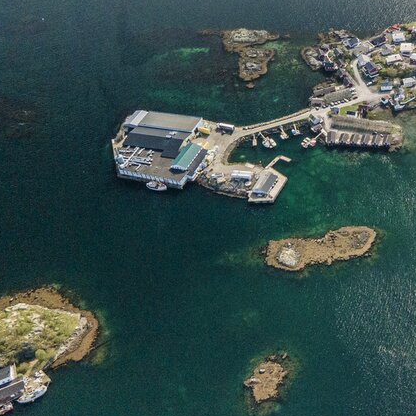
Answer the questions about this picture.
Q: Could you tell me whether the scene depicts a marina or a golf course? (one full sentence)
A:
This image shows a marina.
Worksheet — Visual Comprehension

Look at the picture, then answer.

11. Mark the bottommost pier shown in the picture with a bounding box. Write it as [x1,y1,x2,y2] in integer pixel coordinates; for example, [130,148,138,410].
[18,370,52,403]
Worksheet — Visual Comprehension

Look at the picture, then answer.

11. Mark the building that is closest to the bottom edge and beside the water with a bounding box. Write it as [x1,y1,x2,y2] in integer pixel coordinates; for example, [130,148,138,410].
[0,376,24,409]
